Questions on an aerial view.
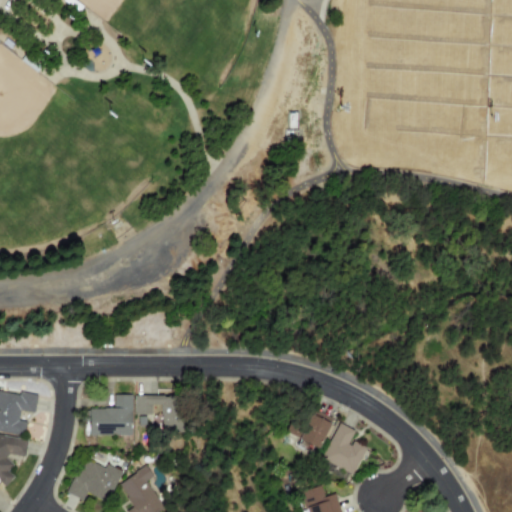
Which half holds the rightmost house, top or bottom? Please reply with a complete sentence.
It is in the bottom half that the rightmost house appears.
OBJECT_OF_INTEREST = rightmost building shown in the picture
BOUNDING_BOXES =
[326,422,371,475]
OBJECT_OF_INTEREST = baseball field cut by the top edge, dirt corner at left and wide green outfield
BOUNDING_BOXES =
[83,0,254,112]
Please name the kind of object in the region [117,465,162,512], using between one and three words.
house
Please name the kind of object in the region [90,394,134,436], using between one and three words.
house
